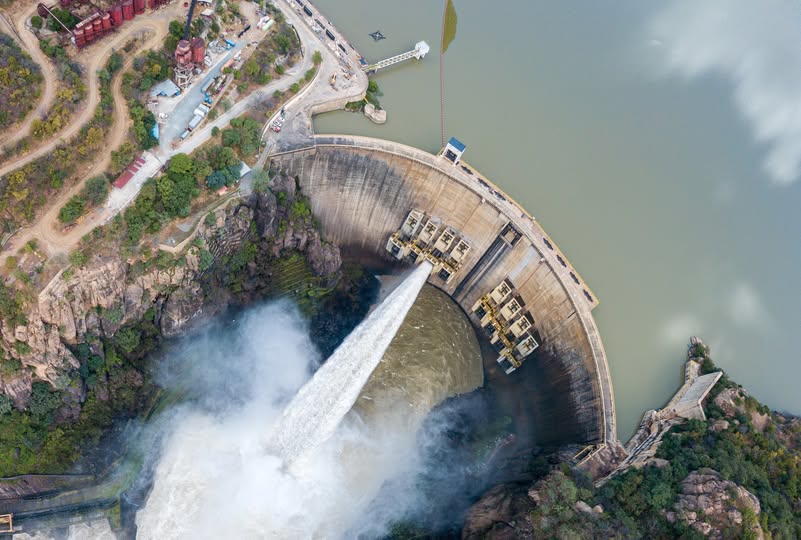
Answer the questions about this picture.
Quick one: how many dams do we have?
two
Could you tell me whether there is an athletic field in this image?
No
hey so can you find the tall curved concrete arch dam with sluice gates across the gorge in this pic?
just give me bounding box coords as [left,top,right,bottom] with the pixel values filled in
[262,136,623,453]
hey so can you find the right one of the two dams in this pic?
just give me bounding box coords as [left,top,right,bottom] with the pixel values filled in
[626,361,724,445]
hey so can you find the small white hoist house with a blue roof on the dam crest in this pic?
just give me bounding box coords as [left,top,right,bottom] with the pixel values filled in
[440,140,464,166]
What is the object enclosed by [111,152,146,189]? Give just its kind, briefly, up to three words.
shed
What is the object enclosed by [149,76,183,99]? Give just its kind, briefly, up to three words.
shed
